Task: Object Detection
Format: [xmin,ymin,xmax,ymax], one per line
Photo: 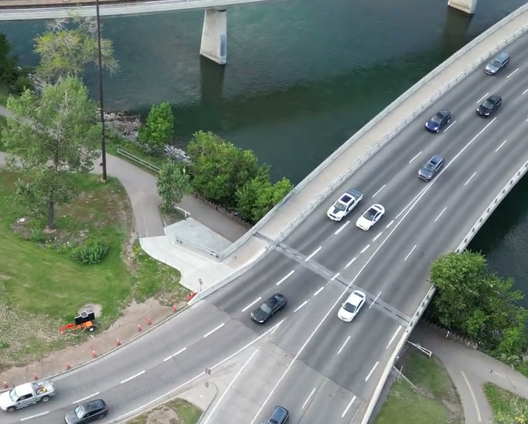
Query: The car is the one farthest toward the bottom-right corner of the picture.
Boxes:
[336,291,367,325]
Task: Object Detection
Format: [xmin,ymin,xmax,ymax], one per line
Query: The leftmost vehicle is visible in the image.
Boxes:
[0,380,56,413]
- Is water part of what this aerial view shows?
Yes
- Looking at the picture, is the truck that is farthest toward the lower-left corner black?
No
